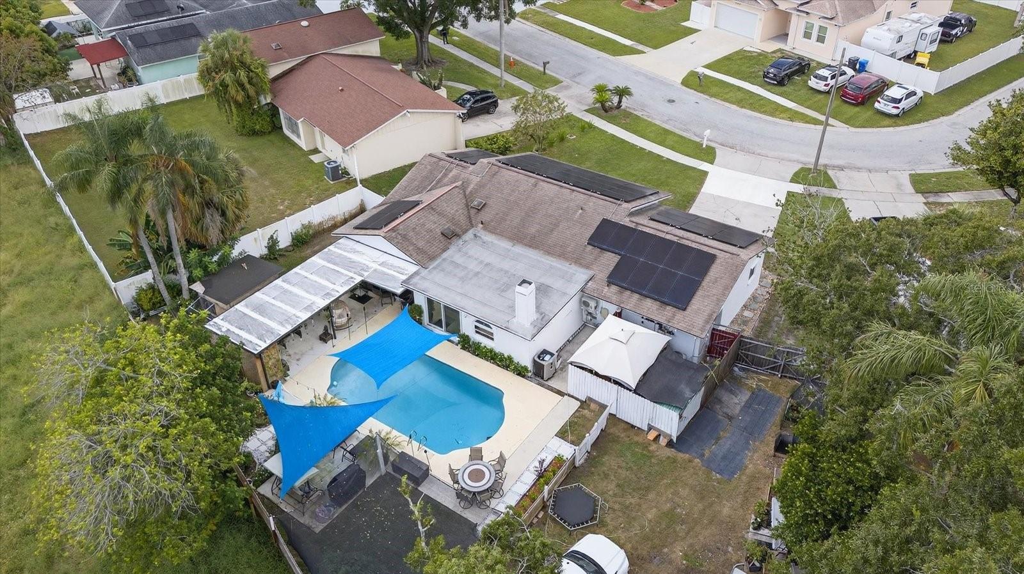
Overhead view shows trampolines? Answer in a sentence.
Yes, this view includes a trampoline.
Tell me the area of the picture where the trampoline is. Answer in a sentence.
You can find the trampoline in the bottom area of the picture.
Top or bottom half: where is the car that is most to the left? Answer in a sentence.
The car that is most to the left sits in the top half of the picture.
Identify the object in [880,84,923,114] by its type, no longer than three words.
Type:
car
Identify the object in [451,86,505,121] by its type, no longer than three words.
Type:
car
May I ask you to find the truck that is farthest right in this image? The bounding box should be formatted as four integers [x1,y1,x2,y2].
[939,17,975,41]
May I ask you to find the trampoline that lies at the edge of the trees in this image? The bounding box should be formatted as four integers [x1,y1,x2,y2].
[547,484,609,536]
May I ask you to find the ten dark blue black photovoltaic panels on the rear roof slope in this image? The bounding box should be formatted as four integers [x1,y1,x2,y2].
[587,216,717,309]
